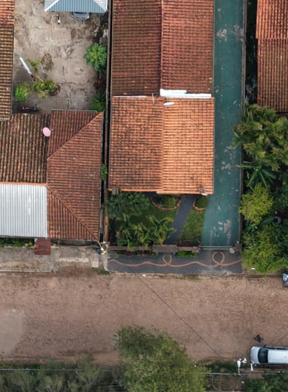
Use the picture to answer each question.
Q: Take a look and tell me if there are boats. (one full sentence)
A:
No, no boat is visible in the scene.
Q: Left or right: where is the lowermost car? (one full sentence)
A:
The lowermost car sits on the right side.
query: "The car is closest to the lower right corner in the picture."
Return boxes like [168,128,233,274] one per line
[249,343,288,368]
